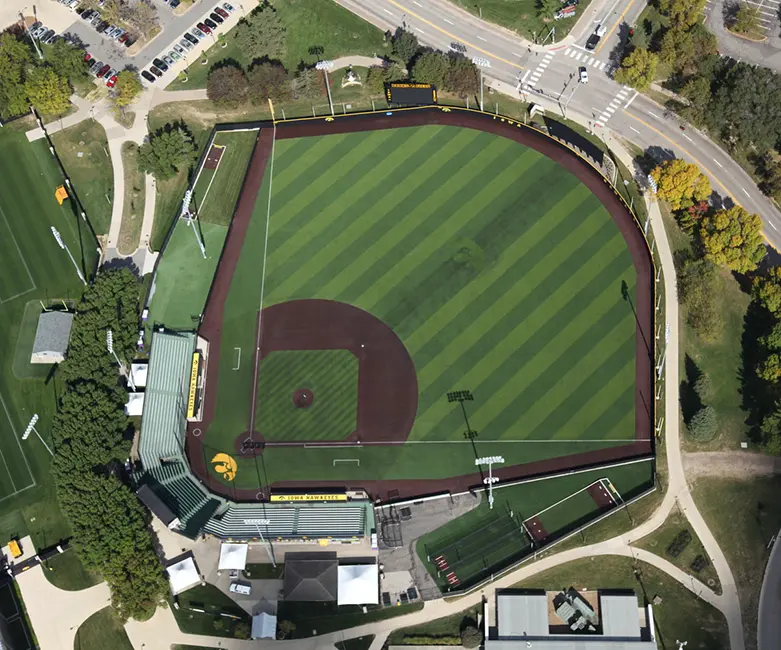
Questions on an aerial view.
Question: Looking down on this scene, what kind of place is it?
sports ground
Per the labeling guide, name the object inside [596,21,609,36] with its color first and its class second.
white vehicle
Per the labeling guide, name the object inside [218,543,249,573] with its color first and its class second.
white tent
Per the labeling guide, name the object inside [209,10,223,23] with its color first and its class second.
black vehicle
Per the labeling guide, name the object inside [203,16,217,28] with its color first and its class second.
black vehicle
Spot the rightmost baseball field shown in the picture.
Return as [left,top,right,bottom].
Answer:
[185,112,654,509]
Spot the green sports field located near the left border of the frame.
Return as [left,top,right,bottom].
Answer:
[0,111,100,577]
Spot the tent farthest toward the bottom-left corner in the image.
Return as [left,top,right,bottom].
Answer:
[168,557,201,599]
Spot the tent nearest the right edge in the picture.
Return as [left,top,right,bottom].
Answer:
[338,565,378,608]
